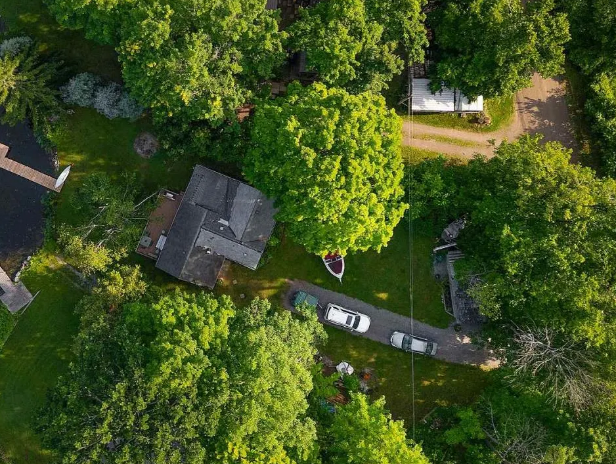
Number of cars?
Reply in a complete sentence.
The photo contains 2 cars.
